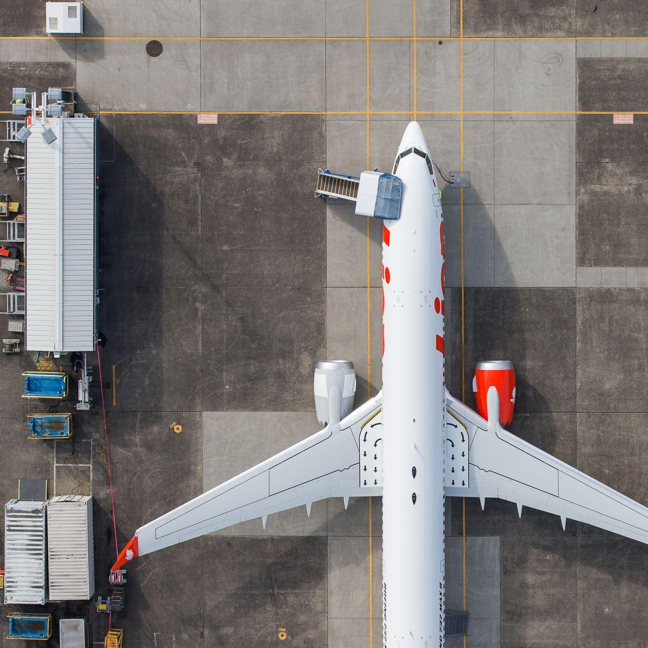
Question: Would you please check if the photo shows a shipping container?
Yes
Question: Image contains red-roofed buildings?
No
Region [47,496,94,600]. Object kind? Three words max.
shipping container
